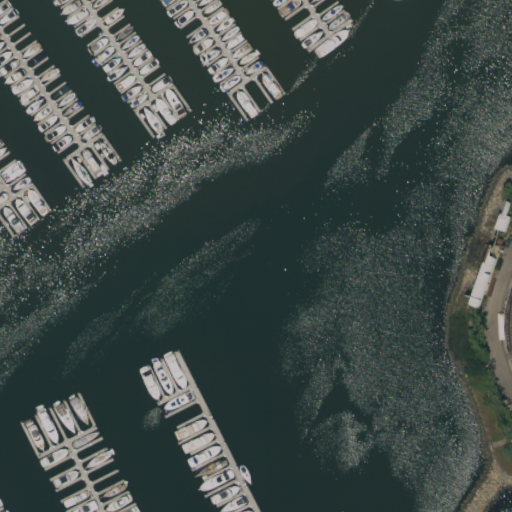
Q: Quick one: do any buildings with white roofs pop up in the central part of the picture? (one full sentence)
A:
No, no building with a white roof appears in the central part of the picture.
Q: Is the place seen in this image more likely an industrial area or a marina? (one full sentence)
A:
What you see here is a marina.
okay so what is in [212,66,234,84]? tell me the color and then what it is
white boat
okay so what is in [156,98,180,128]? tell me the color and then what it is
white boat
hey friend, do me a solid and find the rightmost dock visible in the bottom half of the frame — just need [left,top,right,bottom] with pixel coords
[154,351,260,512]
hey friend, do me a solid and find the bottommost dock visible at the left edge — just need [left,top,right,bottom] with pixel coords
[21,394,136,512]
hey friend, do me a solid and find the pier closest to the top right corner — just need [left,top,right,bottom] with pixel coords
[282,0,351,52]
